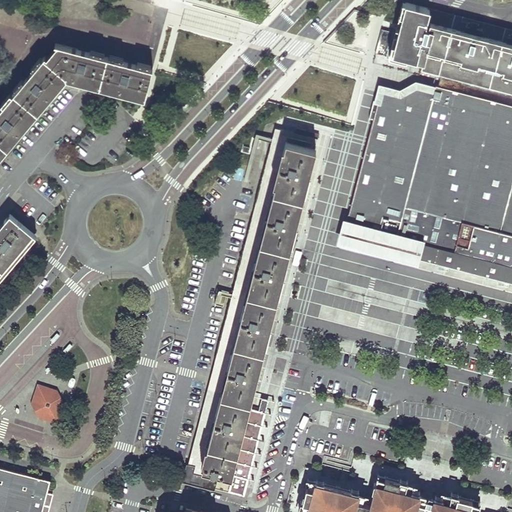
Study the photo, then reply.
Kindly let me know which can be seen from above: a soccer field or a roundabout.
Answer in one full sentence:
There is a roundabout in the scene.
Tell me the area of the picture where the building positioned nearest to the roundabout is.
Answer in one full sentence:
The building positioned nearest to the roundabout is in the left part of the image.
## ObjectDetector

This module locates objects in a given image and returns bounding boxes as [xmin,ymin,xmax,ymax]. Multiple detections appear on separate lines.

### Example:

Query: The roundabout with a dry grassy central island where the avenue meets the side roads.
[64,170,168,275]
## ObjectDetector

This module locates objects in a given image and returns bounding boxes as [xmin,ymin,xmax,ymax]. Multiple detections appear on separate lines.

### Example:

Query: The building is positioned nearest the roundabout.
[0,214,36,282]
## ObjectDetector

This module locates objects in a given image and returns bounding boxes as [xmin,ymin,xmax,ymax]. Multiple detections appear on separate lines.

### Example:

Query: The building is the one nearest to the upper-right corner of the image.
[390,6,512,96]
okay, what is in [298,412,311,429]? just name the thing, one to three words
vehicle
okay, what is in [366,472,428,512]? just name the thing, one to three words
house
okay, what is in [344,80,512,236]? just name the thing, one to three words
building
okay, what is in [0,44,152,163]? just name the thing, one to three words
building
